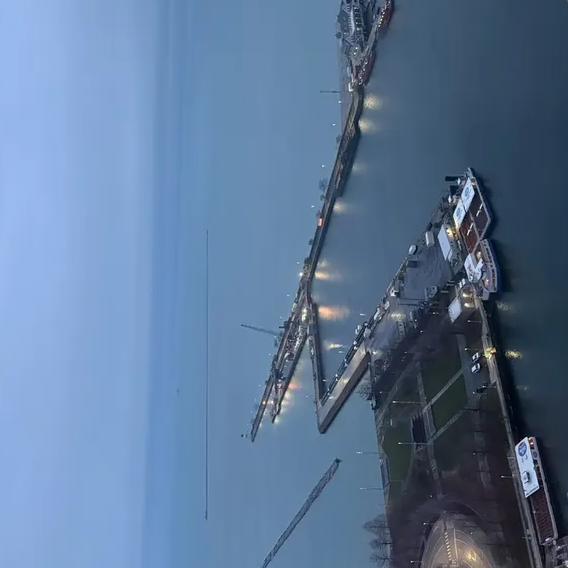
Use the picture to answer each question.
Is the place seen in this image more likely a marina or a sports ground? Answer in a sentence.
The picture captures a marina.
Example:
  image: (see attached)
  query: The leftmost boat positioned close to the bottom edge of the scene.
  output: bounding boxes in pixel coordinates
[517,437,564,544]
